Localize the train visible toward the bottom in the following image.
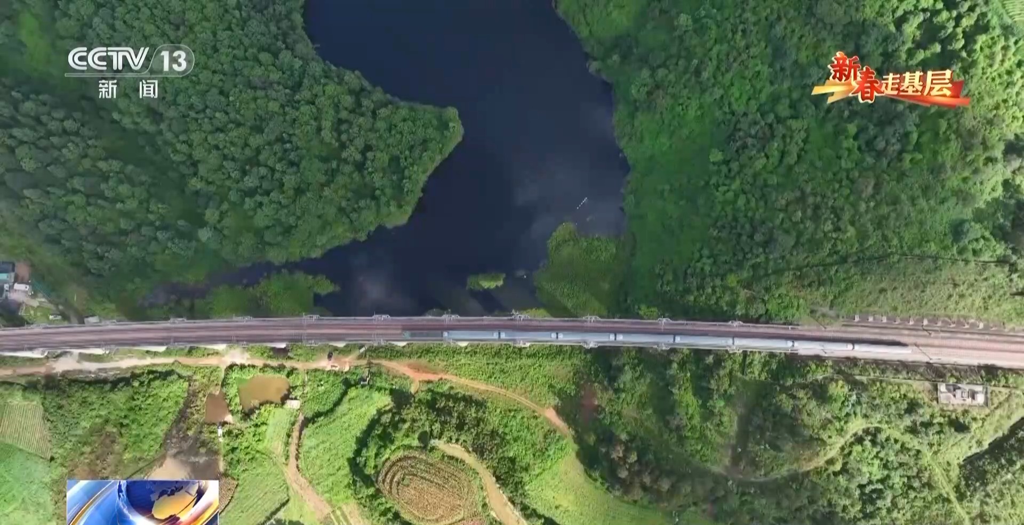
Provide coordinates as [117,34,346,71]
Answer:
[399,331,911,354]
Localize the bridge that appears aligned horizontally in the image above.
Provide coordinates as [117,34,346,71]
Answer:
[0,314,796,361]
